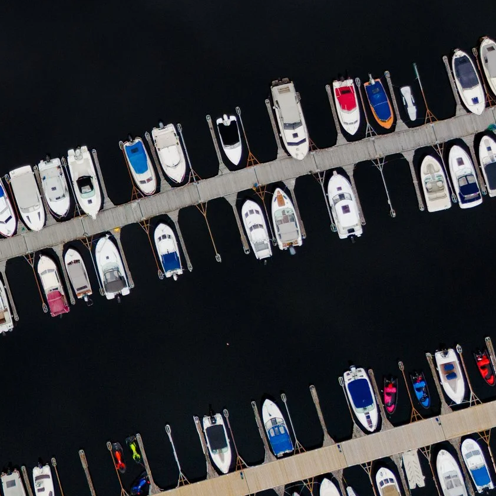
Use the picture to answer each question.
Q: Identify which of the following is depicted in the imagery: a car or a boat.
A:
boat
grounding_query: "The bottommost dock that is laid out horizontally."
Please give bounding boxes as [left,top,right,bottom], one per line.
[146,399,496,496]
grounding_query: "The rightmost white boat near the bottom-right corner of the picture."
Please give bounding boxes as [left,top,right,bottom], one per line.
[464,439,492,496]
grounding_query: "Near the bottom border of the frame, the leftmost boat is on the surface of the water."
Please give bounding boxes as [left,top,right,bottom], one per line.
[2,463,27,496]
